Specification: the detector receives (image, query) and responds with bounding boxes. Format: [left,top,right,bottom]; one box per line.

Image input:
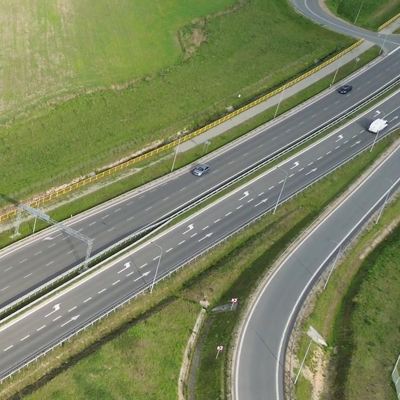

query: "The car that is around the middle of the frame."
[194,163,212,175]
